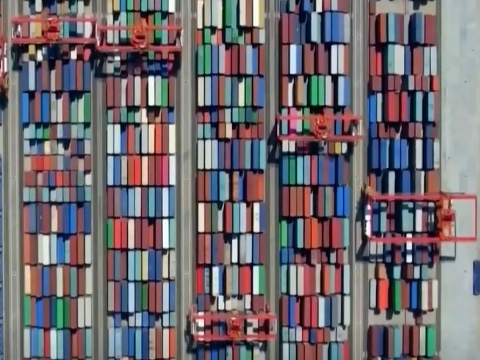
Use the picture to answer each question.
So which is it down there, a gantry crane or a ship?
gantry crane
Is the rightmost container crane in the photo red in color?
Yes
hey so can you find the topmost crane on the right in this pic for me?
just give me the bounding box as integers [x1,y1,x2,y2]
[271,105,366,148]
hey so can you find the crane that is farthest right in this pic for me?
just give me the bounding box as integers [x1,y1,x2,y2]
[357,188,477,245]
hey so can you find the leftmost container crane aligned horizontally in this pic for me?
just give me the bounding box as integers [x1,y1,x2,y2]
[7,12,101,55]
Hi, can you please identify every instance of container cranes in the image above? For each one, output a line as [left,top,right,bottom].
[357,188,477,245]
[188,297,279,344]
[7,12,101,55]
[271,105,366,148]
[93,19,185,63]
